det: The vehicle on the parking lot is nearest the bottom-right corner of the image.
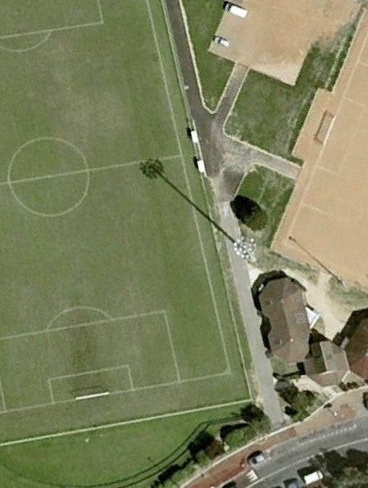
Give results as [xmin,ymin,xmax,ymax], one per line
[304,471,322,485]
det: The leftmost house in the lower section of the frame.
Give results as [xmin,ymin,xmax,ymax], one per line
[260,277,311,364]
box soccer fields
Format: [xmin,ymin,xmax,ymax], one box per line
[0,0,250,446]
[270,8,368,290]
